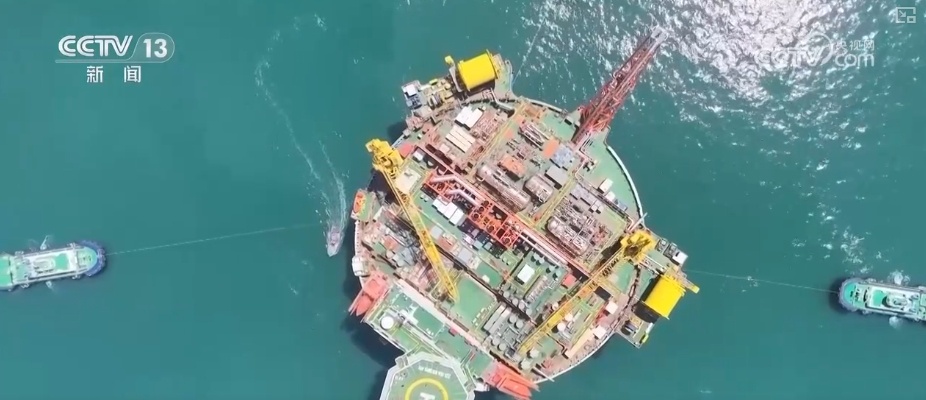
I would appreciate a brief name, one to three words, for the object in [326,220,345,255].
boat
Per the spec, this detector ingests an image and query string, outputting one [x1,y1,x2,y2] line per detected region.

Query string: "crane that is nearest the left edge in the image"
[371,140,458,302]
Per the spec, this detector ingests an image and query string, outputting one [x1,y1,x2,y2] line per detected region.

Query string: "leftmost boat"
[0,242,111,287]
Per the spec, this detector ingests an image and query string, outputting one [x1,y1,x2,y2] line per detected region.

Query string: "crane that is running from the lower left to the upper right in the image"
[516,225,658,357]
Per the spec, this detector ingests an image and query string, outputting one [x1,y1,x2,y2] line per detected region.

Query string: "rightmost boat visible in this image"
[832,278,926,325]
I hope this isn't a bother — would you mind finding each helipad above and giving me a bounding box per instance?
[379,349,477,400]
